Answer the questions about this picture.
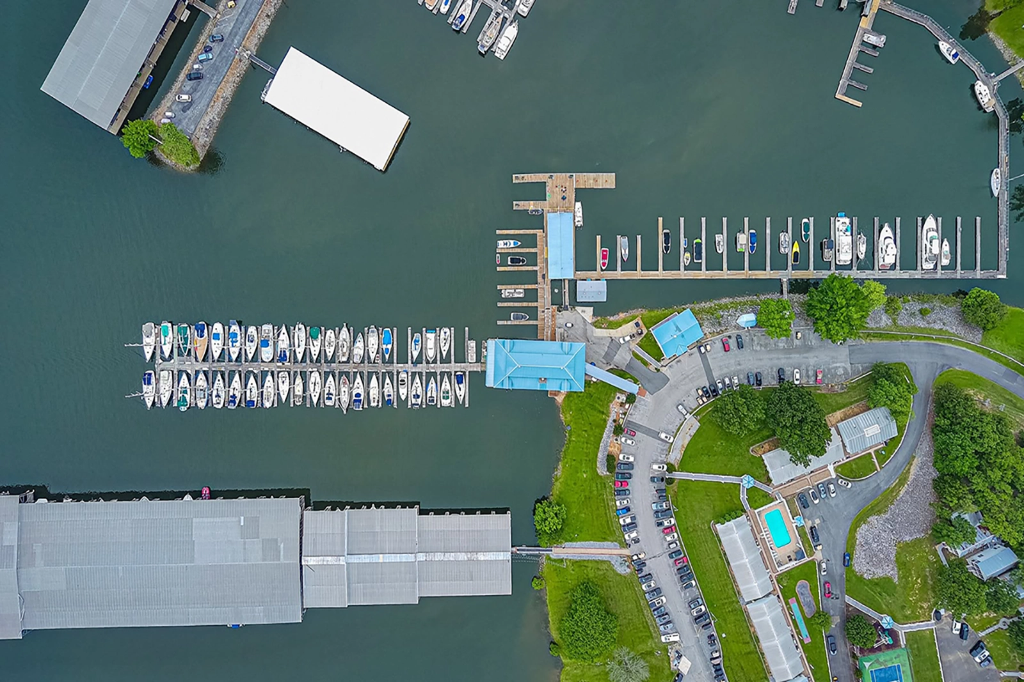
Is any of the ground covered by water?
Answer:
Yes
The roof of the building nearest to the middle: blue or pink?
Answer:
blue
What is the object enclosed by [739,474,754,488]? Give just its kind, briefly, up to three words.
gazebo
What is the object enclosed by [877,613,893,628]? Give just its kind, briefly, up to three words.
gazebo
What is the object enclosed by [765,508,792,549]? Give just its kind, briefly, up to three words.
swimming pool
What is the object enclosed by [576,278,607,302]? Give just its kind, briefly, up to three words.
building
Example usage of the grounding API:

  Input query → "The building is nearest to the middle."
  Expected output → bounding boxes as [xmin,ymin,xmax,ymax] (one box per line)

[486,339,585,391]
